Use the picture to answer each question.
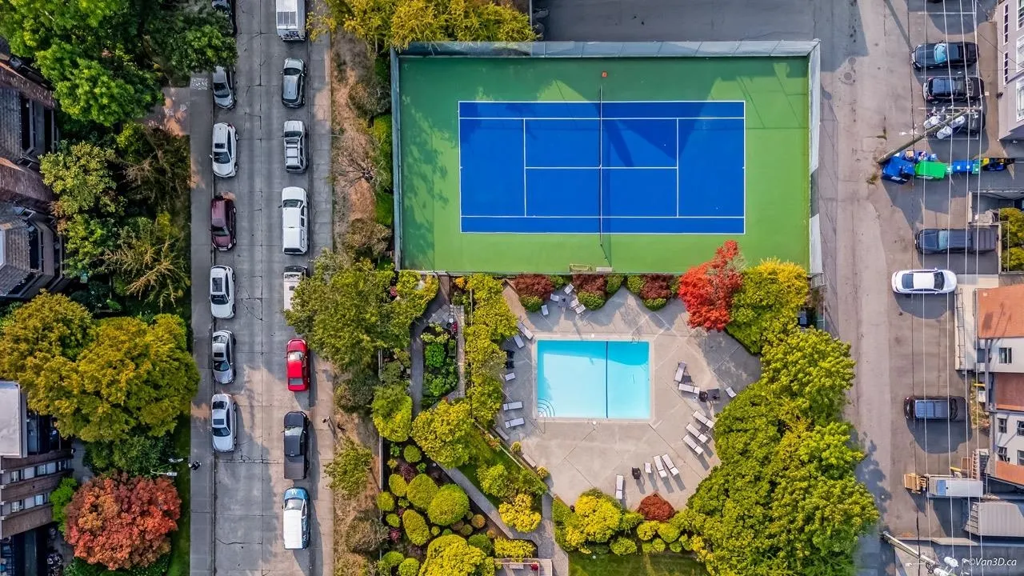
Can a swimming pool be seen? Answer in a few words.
Yes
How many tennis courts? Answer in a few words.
1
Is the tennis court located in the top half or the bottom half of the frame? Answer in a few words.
top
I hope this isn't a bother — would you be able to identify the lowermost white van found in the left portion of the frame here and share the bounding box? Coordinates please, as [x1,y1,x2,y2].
[280,487,310,549]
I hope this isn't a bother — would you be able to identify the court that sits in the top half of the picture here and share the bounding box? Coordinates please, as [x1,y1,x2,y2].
[400,57,811,273]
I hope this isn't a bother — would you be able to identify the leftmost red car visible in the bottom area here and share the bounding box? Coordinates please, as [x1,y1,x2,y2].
[283,339,311,392]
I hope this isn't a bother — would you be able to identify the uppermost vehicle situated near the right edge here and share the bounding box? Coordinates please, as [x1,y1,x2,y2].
[911,41,979,71]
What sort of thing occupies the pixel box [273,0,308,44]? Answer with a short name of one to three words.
van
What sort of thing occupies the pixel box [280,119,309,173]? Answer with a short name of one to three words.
car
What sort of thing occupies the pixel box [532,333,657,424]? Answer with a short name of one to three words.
swimming pool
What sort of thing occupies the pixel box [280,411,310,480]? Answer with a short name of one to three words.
truck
